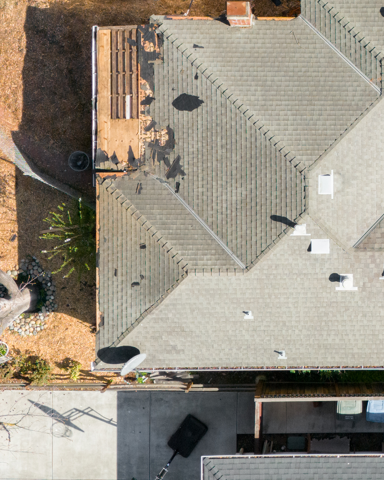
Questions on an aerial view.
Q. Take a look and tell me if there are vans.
No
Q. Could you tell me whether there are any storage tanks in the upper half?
No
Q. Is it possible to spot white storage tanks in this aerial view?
No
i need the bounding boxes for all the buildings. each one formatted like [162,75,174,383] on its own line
[93,0,384,371]
[197,451,384,480]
